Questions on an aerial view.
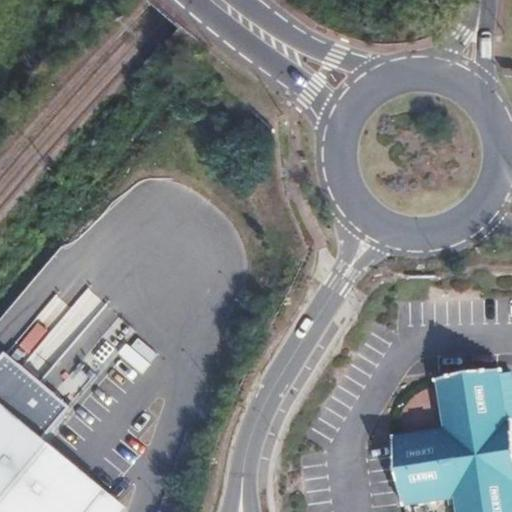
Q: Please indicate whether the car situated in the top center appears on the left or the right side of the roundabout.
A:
to the left of it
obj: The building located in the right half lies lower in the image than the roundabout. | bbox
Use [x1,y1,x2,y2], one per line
[389,366,512,512]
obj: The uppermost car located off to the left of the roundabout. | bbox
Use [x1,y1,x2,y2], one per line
[285,66,306,86]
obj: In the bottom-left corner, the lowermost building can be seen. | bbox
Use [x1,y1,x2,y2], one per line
[0,398,132,512]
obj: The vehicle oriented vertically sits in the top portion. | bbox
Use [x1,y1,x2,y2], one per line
[480,32,492,60]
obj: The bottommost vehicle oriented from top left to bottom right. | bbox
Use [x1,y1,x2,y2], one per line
[92,468,114,486]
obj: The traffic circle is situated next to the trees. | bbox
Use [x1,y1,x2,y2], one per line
[315,50,512,260]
